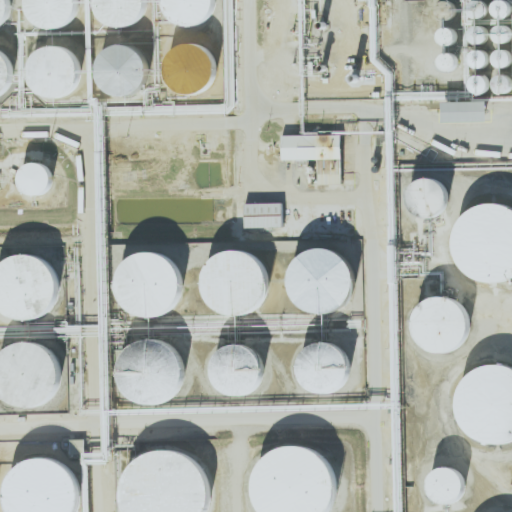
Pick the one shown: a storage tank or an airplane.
storage tank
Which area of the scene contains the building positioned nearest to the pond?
center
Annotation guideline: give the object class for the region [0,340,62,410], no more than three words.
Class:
storage tank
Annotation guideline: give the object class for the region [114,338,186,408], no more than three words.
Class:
storage tank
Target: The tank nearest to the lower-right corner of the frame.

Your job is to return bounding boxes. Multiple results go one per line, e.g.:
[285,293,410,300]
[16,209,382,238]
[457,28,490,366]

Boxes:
[424,466,468,506]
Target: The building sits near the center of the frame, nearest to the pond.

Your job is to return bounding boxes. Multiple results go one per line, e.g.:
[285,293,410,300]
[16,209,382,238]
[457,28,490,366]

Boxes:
[243,204,282,229]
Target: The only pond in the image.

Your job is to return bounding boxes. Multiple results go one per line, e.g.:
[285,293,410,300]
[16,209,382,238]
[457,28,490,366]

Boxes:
[115,198,216,224]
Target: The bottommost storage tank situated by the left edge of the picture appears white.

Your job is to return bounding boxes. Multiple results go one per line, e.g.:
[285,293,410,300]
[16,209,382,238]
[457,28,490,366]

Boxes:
[2,456,82,512]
